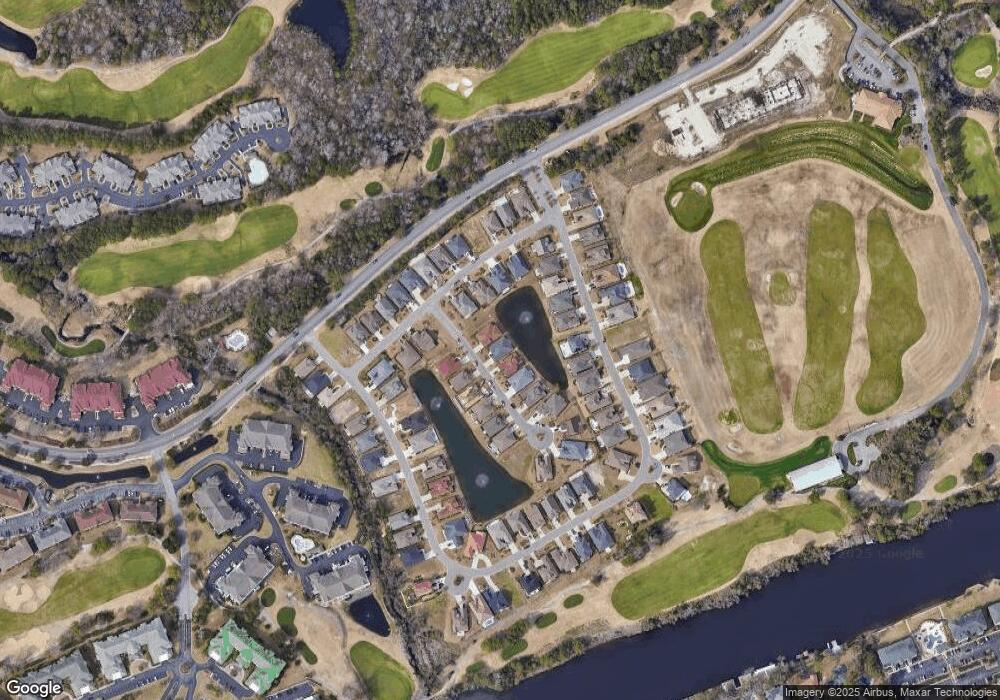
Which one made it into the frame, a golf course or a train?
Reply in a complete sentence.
It is a golf course that can be seen here.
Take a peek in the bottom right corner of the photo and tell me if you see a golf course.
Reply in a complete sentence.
Yes, a golf course appears in the bottom right corner of the photo.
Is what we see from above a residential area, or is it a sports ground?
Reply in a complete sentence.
This image shows a residential area.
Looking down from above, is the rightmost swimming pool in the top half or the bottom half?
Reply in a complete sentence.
The rightmost swimming pool sits in the bottom half of the picture.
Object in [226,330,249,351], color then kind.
white swimming pool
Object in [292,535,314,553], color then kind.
white swimming pool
